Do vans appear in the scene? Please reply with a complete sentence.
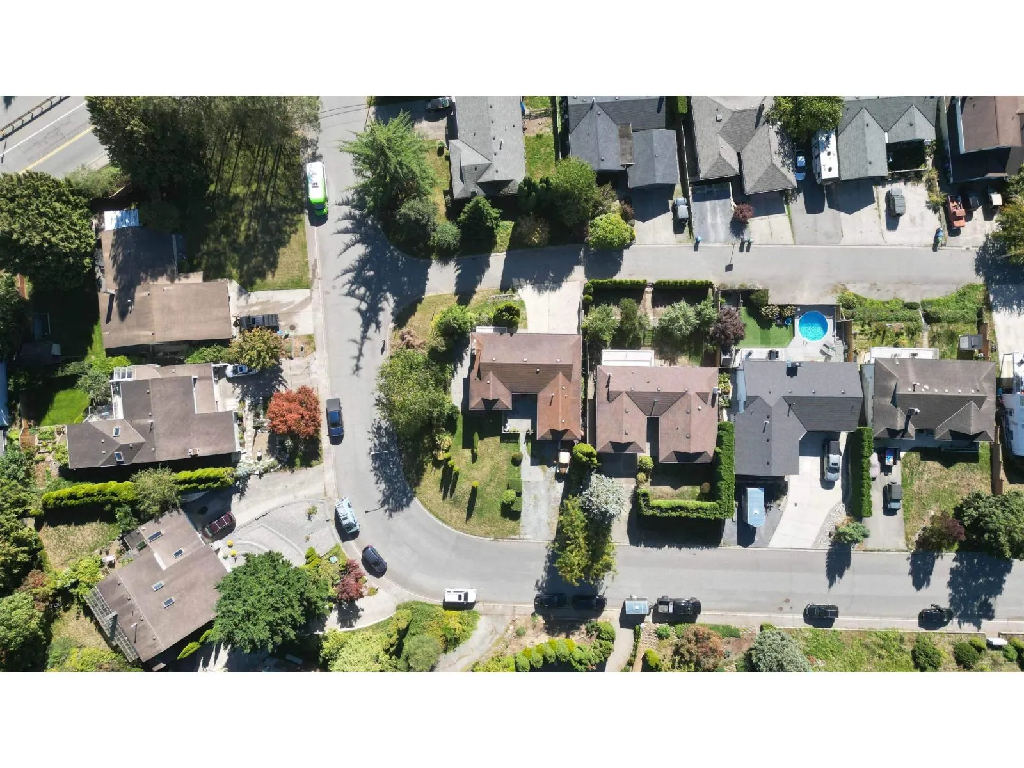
Yes, I can see a van in this picture.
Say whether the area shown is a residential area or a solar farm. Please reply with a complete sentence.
The area seen from above is a residential area.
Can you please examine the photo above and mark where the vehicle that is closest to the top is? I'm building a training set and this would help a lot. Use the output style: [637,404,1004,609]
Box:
[421,93,454,114]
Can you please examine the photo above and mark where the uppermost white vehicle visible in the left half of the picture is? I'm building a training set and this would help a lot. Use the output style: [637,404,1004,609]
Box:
[304,161,331,221]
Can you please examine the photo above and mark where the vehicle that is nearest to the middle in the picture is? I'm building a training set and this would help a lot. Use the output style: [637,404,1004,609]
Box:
[556,446,570,476]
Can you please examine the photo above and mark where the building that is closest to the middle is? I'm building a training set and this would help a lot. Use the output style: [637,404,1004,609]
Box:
[469,327,583,441]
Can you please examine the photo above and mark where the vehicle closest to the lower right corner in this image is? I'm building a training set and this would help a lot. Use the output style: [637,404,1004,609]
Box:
[915,600,951,624]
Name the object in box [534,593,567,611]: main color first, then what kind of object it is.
black car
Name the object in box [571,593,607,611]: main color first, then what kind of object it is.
black car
